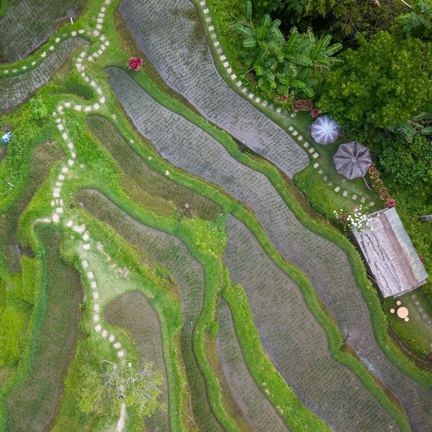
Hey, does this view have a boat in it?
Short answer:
No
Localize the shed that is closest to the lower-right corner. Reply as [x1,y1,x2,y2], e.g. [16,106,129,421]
[349,204,429,297]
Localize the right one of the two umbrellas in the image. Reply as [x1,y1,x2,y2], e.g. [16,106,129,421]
[330,141,369,179]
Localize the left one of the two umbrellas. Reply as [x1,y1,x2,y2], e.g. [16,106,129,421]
[310,116,337,144]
